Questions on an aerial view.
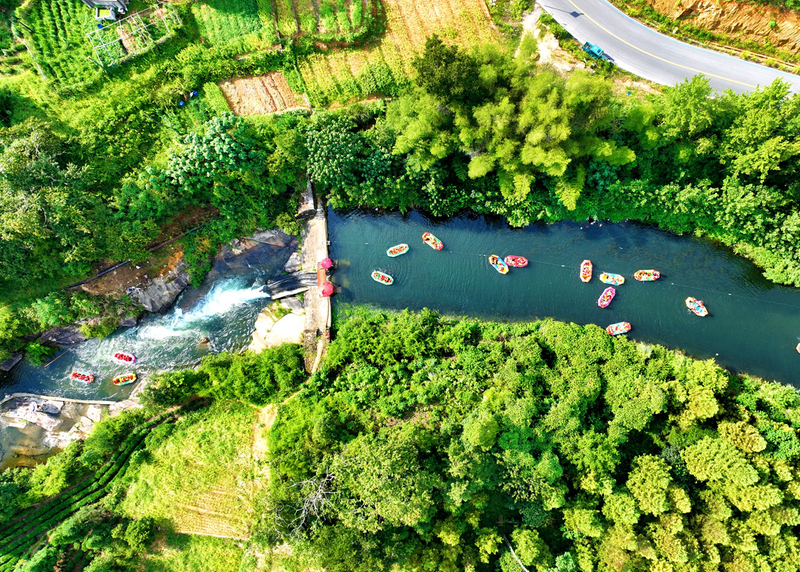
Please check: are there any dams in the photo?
Yes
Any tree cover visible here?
Yes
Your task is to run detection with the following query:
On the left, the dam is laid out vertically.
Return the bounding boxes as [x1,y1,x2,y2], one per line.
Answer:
[272,178,331,375]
